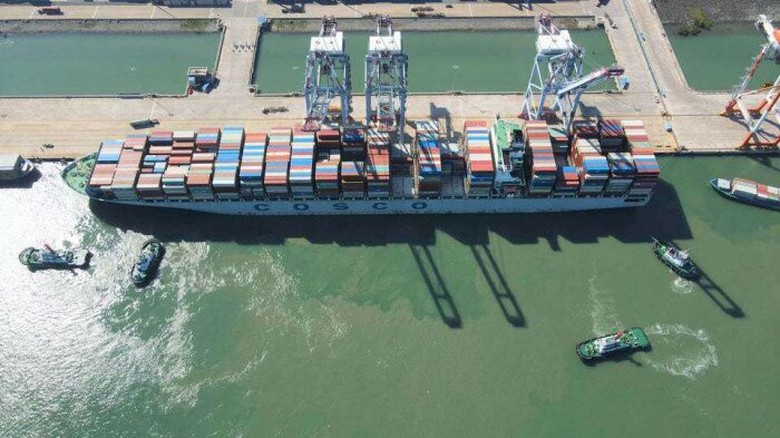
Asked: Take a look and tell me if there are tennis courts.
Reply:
No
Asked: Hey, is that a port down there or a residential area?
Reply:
port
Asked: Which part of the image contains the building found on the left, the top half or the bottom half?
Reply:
top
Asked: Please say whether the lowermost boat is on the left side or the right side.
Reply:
right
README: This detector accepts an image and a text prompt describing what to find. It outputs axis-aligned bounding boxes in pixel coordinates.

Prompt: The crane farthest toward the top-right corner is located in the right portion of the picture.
[724,14,780,148]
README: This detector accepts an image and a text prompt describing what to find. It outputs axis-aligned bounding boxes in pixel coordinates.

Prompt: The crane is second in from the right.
[513,14,617,133]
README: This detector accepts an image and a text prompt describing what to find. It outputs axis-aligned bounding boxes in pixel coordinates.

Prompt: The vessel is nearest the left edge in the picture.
[0,158,35,184]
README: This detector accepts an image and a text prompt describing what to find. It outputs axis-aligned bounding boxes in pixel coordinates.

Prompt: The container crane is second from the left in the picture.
[361,15,411,143]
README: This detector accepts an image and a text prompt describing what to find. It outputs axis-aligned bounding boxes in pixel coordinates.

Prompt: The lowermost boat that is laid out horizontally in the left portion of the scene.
[18,239,93,272]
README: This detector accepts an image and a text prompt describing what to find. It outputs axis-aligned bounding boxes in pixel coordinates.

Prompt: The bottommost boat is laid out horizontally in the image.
[577,321,652,361]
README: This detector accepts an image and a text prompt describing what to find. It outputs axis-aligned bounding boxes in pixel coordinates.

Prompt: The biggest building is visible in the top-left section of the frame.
[181,64,206,86]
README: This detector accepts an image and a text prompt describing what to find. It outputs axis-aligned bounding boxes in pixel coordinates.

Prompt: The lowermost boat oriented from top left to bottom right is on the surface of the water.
[648,235,706,284]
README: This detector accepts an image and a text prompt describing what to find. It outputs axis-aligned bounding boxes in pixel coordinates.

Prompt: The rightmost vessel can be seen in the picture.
[709,176,780,213]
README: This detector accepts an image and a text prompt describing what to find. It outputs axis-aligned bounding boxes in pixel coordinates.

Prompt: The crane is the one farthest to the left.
[305,16,353,137]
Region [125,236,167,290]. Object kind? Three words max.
boat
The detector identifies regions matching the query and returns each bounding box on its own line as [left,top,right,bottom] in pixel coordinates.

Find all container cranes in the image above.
[305,16,353,137]
[513,14,617,133]
[361,15,411,143]
[724,14,780,148]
